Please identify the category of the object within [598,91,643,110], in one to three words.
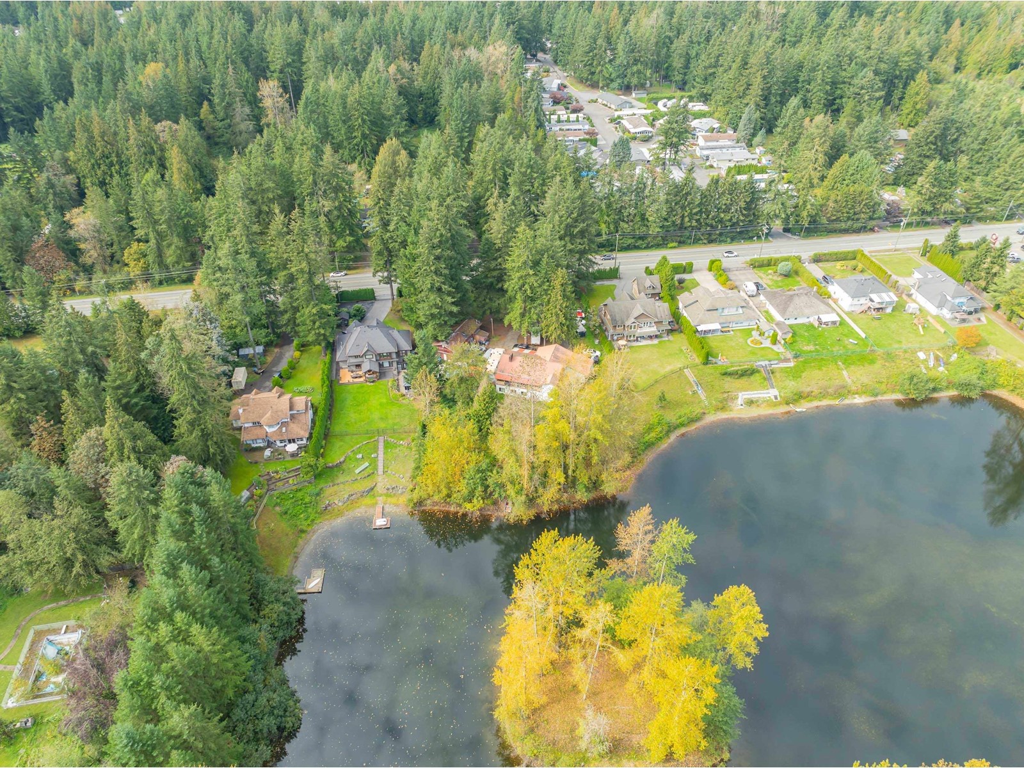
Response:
building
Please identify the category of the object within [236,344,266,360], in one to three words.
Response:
shed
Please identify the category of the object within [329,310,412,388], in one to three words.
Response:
house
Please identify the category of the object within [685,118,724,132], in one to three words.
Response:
house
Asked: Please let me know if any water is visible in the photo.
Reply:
Yes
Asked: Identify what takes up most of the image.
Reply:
trees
